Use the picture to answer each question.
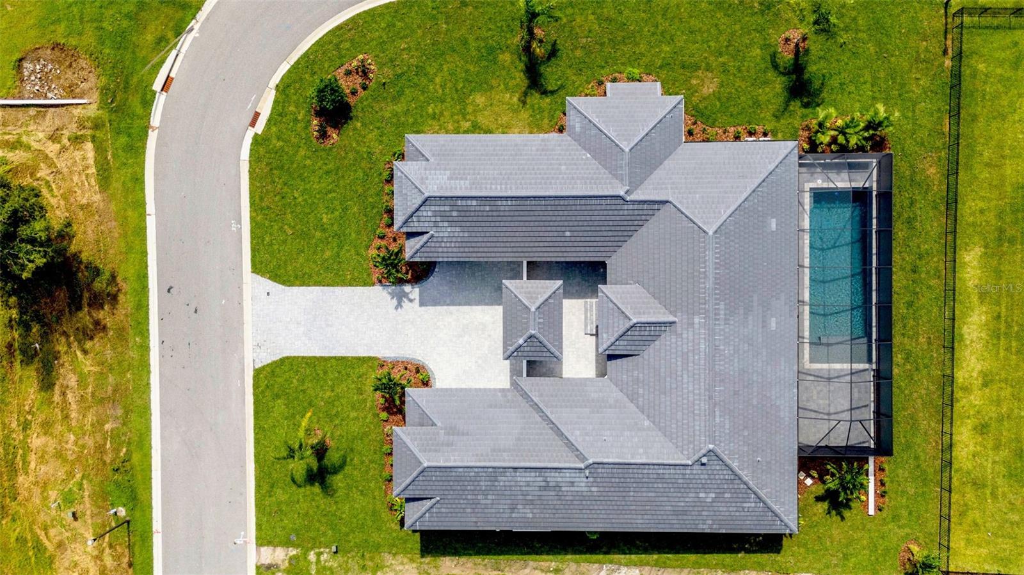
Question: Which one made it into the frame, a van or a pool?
pool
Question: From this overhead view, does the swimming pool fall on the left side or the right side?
right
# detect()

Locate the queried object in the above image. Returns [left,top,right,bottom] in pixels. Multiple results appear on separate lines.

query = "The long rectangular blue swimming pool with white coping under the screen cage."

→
[804,160,876,370]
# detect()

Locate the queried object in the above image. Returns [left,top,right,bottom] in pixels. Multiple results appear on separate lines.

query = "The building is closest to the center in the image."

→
[500,278,564,362]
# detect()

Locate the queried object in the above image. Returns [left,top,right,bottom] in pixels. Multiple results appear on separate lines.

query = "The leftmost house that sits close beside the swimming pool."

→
[391,81,800,535]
